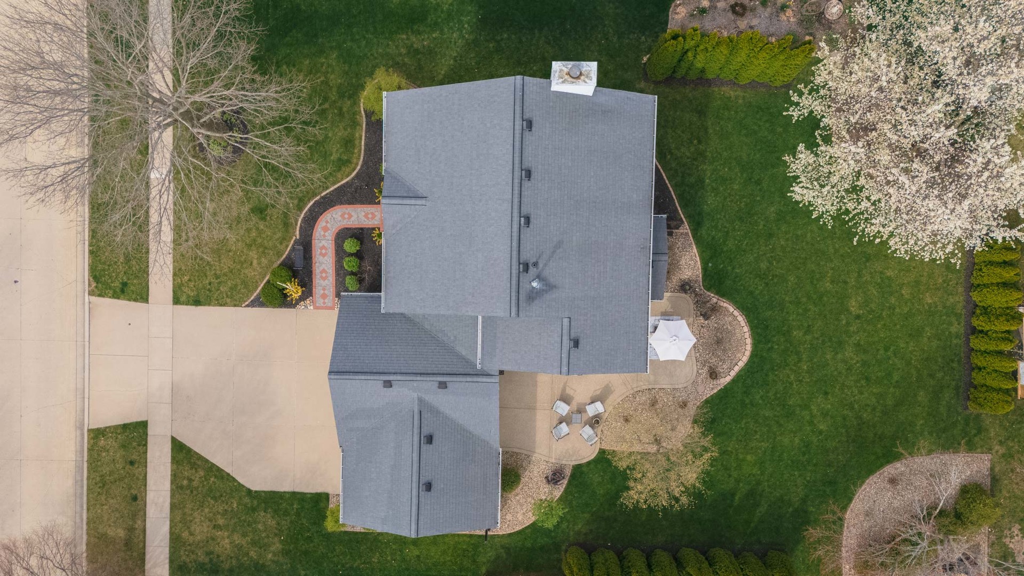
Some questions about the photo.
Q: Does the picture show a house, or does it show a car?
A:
house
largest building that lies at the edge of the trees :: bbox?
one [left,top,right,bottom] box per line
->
[328,61,668,538]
